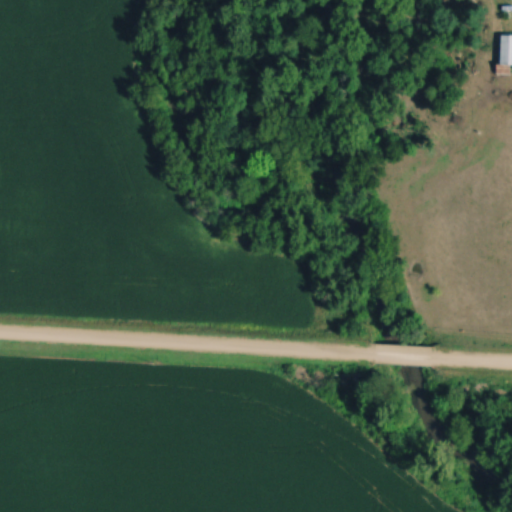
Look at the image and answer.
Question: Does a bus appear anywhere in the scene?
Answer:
No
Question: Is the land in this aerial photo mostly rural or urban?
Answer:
rural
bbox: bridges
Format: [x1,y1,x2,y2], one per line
[372,344,437,367]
